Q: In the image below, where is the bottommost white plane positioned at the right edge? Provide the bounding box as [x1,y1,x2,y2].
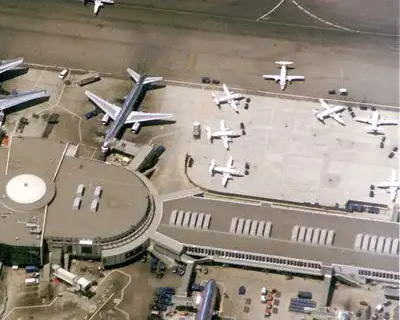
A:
[372,172,400,199]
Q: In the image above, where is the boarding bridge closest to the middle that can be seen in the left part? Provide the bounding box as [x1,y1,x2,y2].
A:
[112,137,142,159]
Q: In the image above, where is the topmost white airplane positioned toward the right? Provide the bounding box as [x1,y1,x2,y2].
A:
[262,57,305,91]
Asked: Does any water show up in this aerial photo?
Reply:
No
